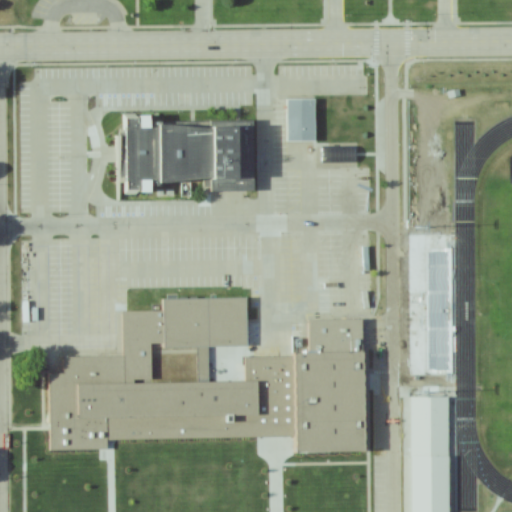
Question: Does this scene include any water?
No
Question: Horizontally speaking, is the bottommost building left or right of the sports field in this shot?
to the left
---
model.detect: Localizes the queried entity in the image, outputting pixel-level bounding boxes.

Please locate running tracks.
[456,116,512,509]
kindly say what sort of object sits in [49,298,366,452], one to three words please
building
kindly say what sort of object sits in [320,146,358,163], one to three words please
shed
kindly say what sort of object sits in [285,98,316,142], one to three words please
shed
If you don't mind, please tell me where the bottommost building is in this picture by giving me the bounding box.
[408,397,450,512]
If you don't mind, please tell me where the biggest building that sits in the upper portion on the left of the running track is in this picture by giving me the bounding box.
[114,114,256,200]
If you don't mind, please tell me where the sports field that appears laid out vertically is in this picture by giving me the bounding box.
[476,138,512,480]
